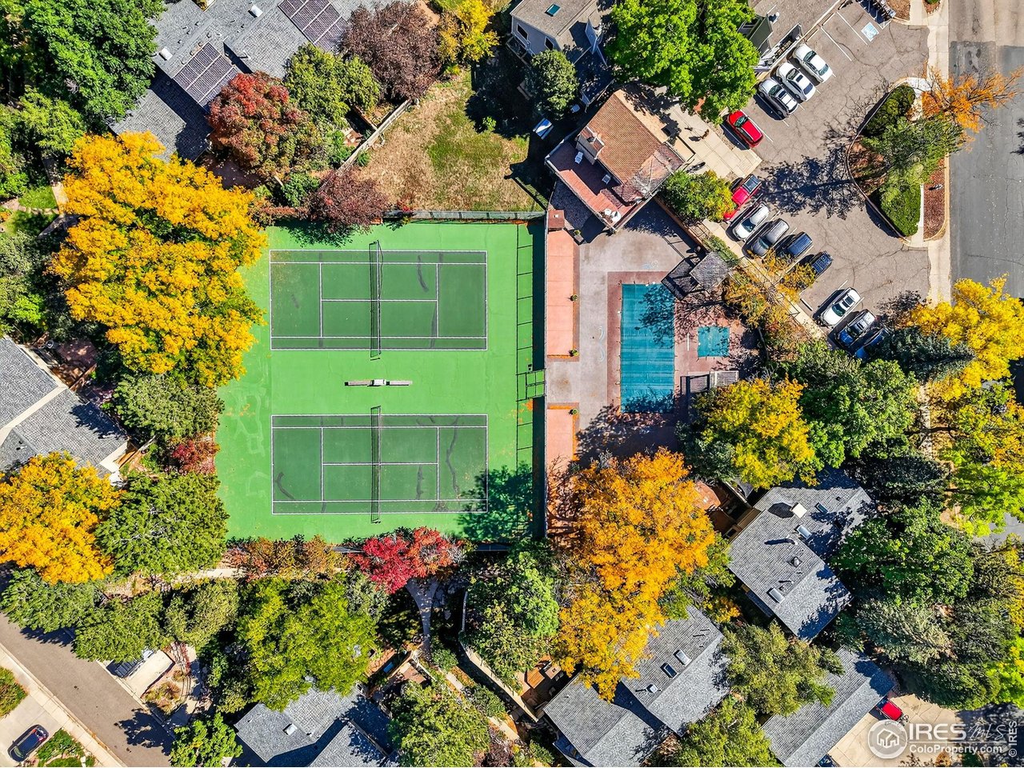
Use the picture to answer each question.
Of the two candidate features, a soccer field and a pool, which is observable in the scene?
pool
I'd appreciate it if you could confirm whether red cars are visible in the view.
Yes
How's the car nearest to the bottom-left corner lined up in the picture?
diagonally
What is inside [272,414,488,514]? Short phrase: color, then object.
green tennis court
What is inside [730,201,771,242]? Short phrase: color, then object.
white car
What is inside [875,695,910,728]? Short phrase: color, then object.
red car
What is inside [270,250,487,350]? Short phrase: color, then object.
green tennis court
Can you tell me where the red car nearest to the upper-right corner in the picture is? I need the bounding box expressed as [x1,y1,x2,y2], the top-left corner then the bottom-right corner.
[726,112,764,150]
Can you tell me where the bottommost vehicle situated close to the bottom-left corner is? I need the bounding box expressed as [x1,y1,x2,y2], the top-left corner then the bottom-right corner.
[8,721,52,763]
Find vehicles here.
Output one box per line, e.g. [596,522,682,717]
[775,62,816,104]
[818,287,861,327]
[721,174,765,221]
[875,695,910,728]
[726,112,764,150]
[749,218,791,259]
[730,201,771,242]
[770,227,814,270]
[756,79,797,121]
[793,248,834,288]
[113,648,164,684]
[834,308,877,348]
[853,326,889,362]
[792,44,833,86]
[8,721,52,763]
